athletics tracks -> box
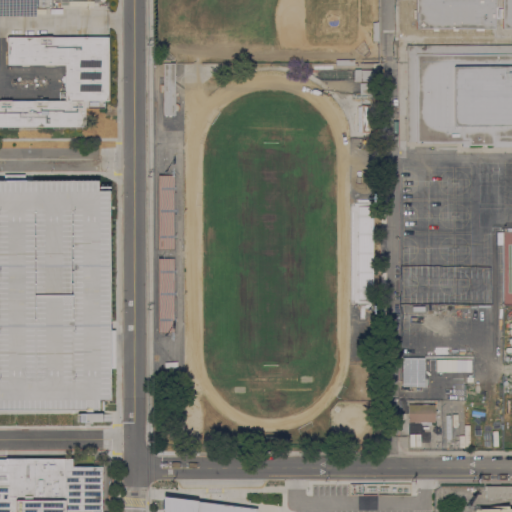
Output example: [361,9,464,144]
[186,70,351,431]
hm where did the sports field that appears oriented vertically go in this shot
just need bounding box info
[204,90,336,416]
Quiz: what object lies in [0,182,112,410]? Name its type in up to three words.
building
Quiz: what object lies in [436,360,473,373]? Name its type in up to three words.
shed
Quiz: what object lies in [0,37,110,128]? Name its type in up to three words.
building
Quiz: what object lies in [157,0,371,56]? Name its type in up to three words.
baseball field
